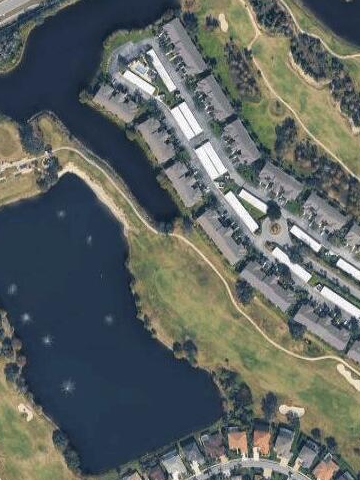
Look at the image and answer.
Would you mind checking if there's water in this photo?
Yes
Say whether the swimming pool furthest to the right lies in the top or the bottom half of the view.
top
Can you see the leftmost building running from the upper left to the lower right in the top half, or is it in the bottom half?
top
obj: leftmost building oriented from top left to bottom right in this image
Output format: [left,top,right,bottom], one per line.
[93,84,138,123]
